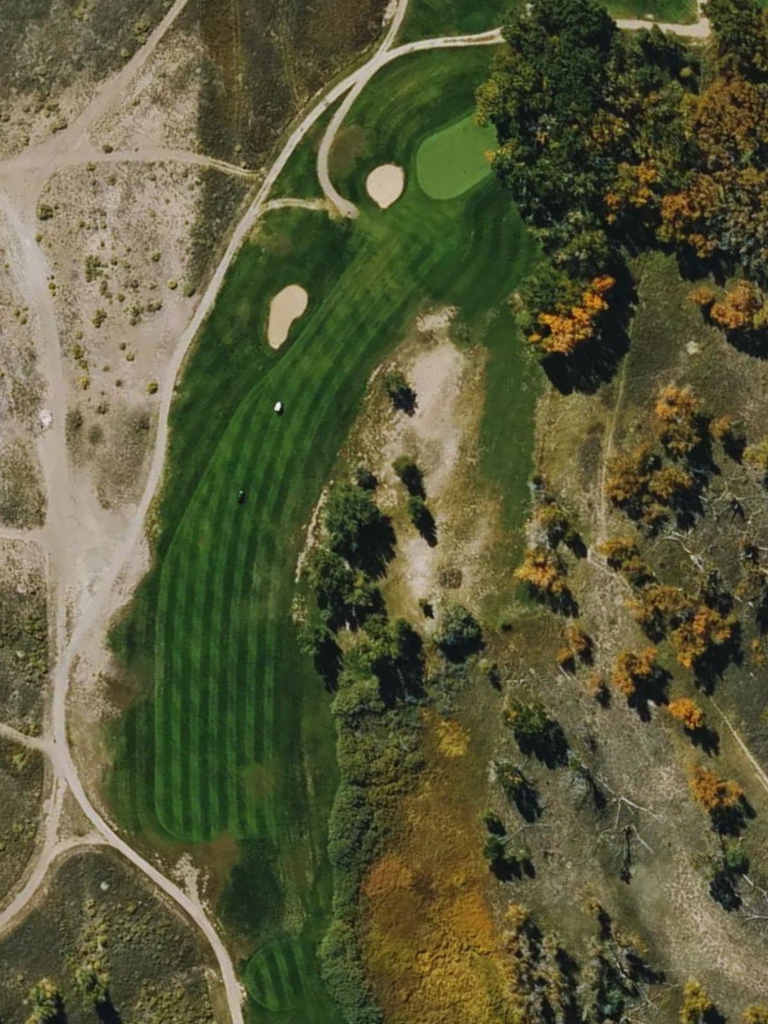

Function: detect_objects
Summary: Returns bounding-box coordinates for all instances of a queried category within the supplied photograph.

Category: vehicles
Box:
[238,491,245,502]
[274,402,281,413]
